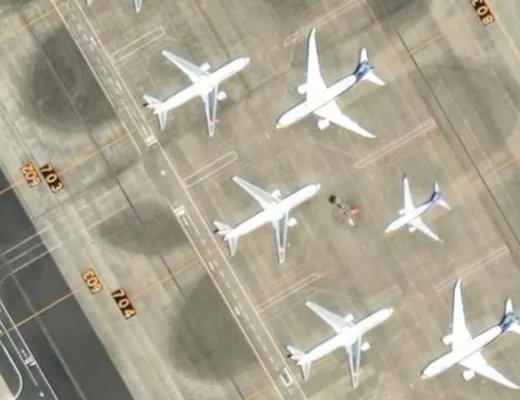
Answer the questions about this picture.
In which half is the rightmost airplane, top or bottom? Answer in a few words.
bottom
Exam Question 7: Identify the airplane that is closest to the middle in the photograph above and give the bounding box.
[215,178,320,262]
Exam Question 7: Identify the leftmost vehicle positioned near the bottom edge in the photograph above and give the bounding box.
[279,369,292,385]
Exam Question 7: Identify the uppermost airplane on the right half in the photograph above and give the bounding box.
[277,29,386,136]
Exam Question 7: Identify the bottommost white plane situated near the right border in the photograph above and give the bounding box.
[422,278,520,387]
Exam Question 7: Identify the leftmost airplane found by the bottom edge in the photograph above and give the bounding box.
[286,302,393,387]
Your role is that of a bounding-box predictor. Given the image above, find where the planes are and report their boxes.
[277,29,386,136]
[386,173,452,239]
[286,302,393,387]
[144,52,249,134]
[215,178,320,262]
[422,278,520,387]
